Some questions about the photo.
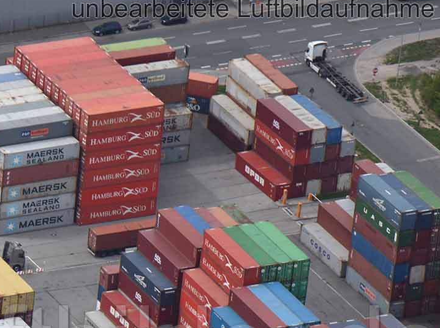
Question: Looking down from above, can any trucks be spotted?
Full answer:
Yes, the photo shows a truck.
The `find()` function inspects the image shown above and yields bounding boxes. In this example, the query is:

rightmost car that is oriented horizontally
[160,10,191,24]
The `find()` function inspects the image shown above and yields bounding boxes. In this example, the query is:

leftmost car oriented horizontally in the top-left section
[92,18,123,33]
